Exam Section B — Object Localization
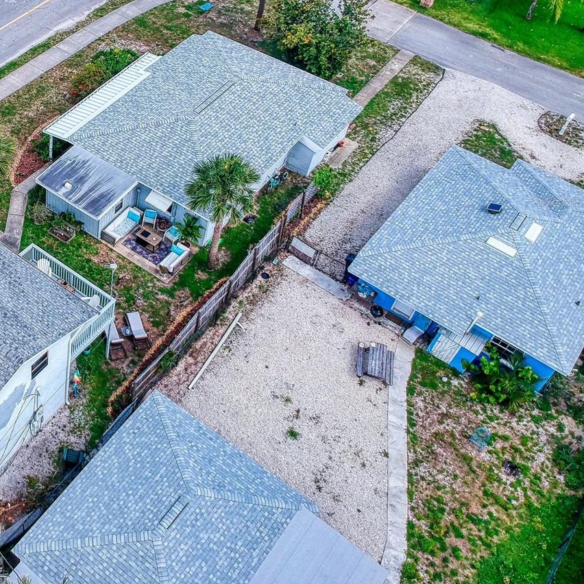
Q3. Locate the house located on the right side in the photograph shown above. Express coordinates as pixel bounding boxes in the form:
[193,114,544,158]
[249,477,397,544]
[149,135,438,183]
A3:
[347,144,584,393]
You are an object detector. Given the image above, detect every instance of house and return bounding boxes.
[0,242,117,470]
[347,144,584,393]
[33,32,368,253]
[10,391,393,584]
